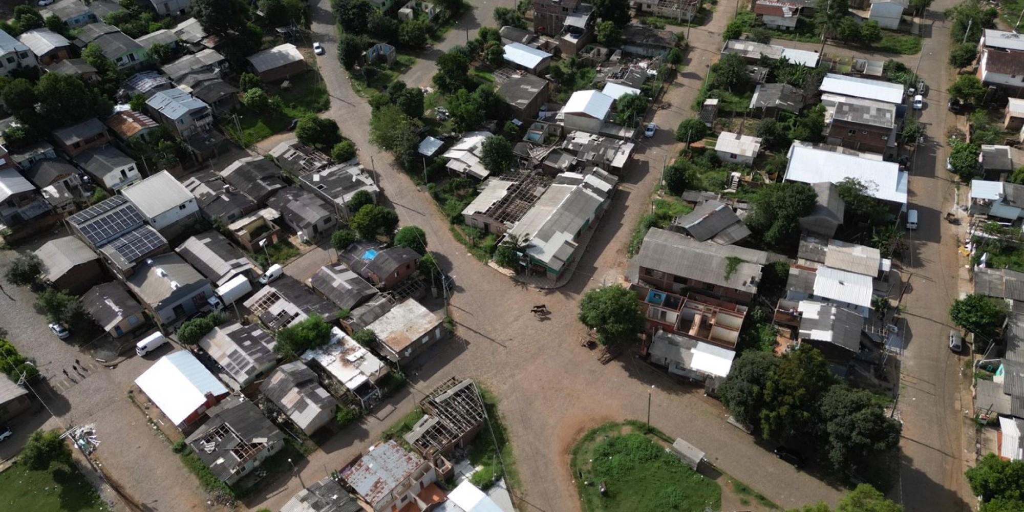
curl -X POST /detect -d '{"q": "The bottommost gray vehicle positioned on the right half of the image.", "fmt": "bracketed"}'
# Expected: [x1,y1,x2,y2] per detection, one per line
[949,329,964,351]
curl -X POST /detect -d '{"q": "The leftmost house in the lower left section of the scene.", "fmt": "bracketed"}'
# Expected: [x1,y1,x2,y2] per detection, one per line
[0,371,32,419]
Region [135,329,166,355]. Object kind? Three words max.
vehicle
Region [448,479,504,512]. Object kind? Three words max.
house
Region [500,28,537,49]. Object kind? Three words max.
house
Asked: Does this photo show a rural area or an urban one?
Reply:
urban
